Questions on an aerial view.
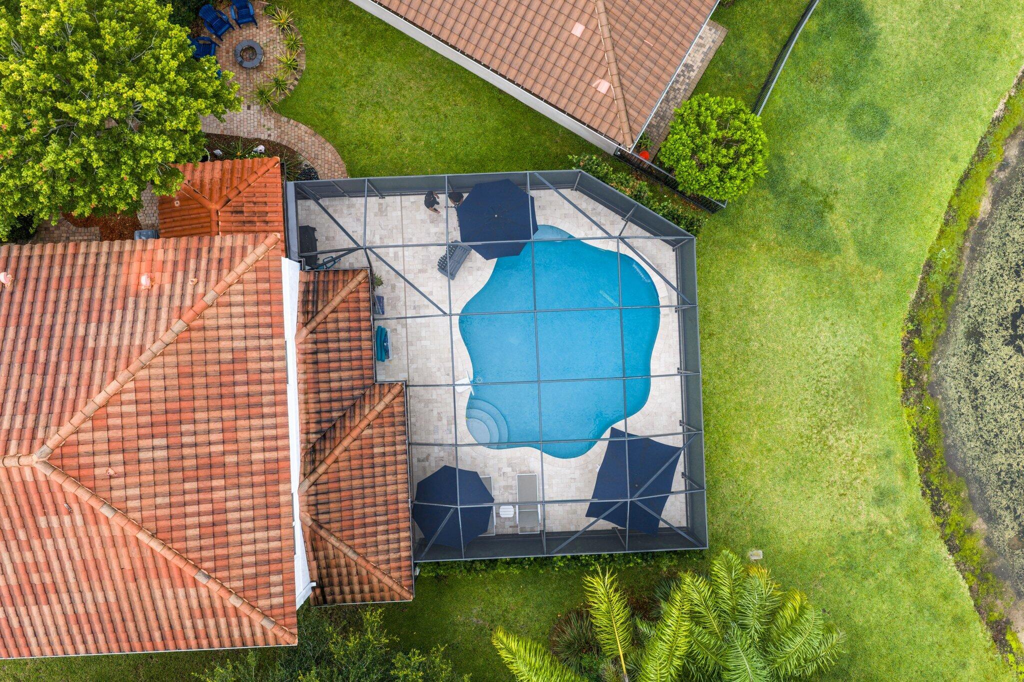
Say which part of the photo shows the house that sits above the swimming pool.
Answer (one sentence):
The house that sits above the swimming pool is located in the top region of the scene.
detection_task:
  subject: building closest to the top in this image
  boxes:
[365,0,719,151]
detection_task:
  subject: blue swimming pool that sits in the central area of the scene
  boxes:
[451,215,669,467]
